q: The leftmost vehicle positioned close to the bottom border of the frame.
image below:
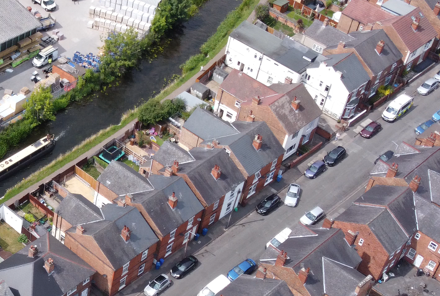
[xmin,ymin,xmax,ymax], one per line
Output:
[143,274,173,296]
